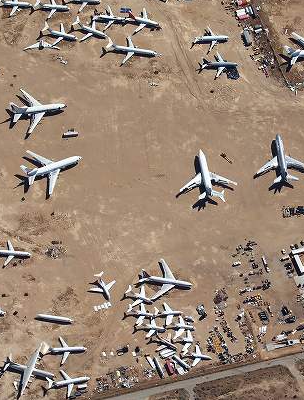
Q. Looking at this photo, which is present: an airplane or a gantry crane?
airplane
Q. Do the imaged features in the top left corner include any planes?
Yes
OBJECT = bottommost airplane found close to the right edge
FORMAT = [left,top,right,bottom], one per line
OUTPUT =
[255,134,304,183]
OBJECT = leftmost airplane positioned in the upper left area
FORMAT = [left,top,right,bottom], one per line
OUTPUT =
[0,0,31,16]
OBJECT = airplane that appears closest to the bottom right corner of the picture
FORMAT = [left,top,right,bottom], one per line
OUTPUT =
[181,346,211,368]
